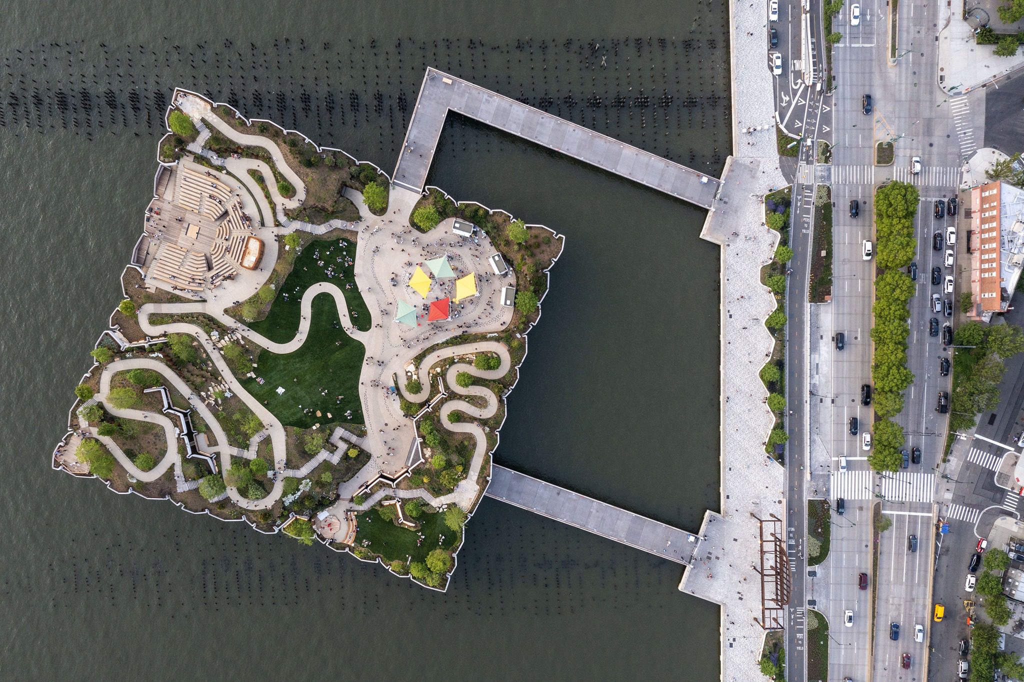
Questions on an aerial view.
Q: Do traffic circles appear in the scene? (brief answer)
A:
No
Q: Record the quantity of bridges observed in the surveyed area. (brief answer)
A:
2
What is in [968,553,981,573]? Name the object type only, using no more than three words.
vehicle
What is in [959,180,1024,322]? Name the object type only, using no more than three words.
building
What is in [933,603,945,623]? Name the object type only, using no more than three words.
vehicle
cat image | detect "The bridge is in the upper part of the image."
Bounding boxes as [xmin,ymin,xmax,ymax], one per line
[391,67,722,210]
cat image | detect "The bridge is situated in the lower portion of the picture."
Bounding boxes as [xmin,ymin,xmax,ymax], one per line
[484,463,702,567]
